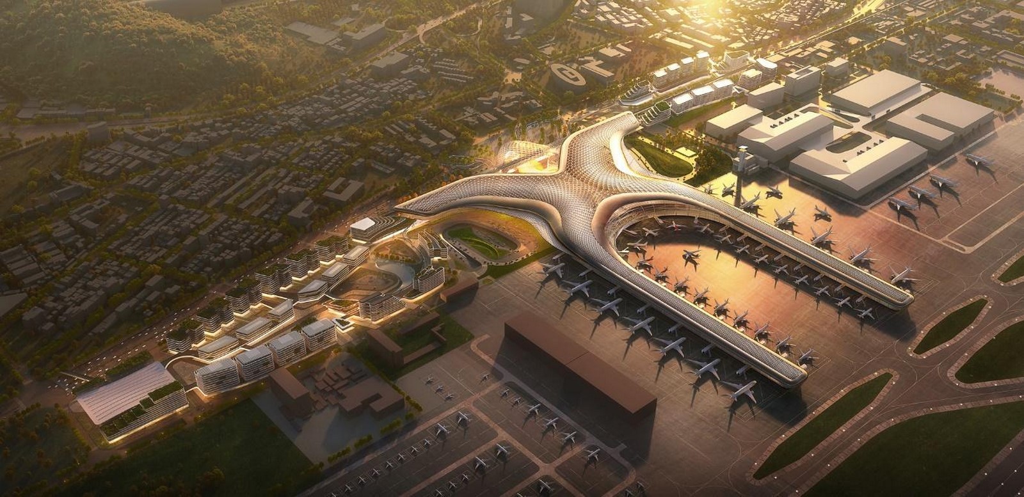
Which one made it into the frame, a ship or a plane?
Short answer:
plane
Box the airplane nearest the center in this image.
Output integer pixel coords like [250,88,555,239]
[541,262,566,276]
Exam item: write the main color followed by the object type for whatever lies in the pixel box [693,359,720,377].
gray airplane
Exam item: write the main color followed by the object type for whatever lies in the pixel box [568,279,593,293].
gray airplane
